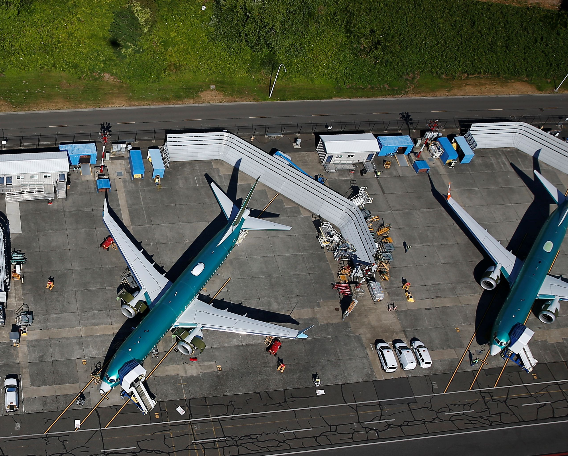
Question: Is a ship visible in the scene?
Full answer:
No, no ship is visible in the scene.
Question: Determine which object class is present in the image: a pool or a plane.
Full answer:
The one in the frame is a plane.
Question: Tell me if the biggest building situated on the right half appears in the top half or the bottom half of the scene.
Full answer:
The biggest building situated on the right half is in the top half of the image.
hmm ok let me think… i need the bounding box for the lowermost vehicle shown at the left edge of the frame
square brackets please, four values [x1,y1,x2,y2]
[2,377,19,415]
